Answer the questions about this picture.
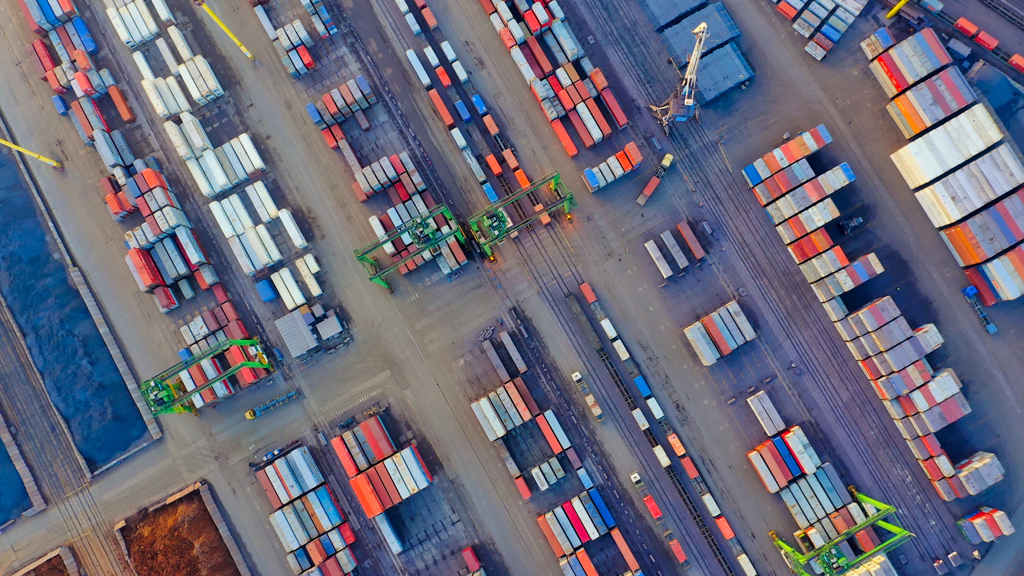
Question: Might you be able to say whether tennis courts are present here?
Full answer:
No, there isn't any tennis court down there.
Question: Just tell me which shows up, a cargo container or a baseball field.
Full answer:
This aerial view contains a cargo container.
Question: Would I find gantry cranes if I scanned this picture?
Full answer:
Yes, there's a gantry crane here.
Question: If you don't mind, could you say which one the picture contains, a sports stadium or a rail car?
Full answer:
Looking from above, you can make out a rail car.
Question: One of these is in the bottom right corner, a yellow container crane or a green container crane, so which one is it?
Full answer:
Looking in the bottom right corner, you will find a green container crane.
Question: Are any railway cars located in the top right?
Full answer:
Yes, there is a railway car in the top right.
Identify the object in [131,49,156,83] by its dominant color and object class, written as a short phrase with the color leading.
white shipping container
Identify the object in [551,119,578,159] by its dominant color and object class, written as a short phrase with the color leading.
red shipping container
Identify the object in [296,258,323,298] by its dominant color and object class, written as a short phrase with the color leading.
white shipping container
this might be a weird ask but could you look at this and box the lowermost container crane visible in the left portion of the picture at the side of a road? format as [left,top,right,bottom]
[137,330,278,419]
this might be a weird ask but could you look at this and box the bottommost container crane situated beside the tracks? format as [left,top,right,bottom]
[771,483,914,576]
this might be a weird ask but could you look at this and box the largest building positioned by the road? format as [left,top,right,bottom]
[275,309,320,358]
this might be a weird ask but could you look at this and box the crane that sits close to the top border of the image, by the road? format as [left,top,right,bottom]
[644,21,710,140]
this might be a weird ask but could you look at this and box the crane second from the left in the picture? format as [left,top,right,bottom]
[353,199,473,296]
